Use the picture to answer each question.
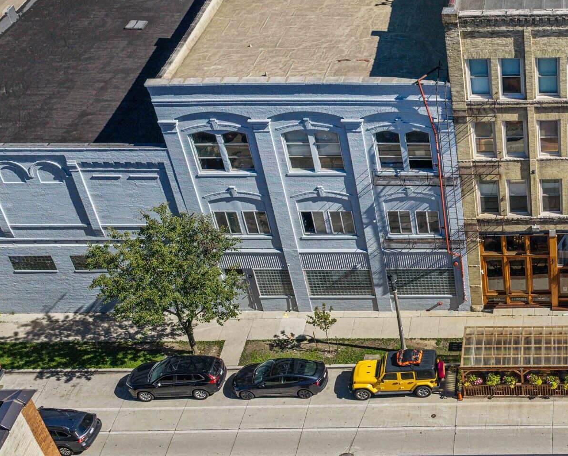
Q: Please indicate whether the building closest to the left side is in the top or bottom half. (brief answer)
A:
bottom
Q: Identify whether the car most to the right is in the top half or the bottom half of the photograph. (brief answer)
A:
bottom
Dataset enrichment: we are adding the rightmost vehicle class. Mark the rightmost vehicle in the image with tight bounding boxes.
[348,350,446,400]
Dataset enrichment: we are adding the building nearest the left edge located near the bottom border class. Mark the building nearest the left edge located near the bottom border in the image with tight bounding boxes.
[0,401,54,456]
